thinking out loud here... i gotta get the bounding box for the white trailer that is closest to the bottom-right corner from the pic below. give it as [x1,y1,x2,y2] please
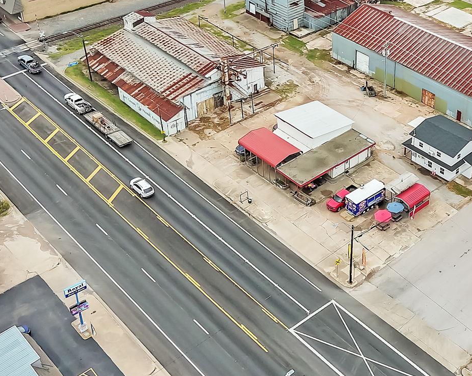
[344,180,384,216]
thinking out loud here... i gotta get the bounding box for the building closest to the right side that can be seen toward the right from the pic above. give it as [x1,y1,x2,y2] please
[402,114,472,182]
